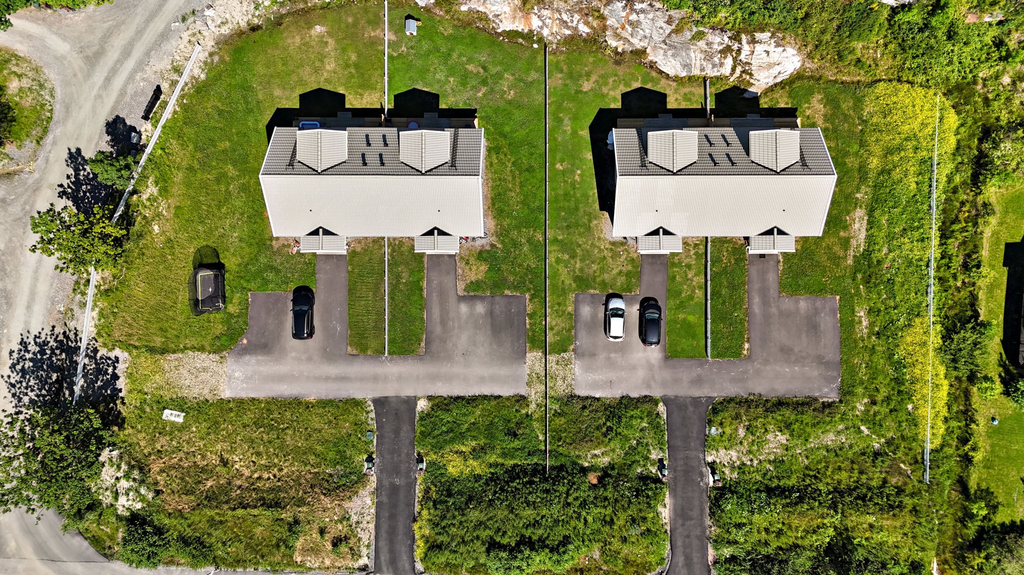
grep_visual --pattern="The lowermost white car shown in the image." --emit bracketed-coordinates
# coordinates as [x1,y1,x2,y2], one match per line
[605,298,627,341]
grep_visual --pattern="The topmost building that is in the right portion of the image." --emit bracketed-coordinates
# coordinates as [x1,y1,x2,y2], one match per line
[610,127,842,255]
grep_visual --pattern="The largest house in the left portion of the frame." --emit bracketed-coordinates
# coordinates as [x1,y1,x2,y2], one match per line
[258,127,484,255]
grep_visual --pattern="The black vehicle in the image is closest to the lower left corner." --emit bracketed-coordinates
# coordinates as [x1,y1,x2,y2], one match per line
[292,291,317,340]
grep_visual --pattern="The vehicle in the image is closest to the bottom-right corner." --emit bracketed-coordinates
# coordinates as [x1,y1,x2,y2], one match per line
[639,300,662,347]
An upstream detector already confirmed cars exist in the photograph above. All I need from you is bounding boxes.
[292,291,317,340]
[605,298,627,341]
[639,300,662,347]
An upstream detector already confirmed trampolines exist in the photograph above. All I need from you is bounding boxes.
[188,268,228,313]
